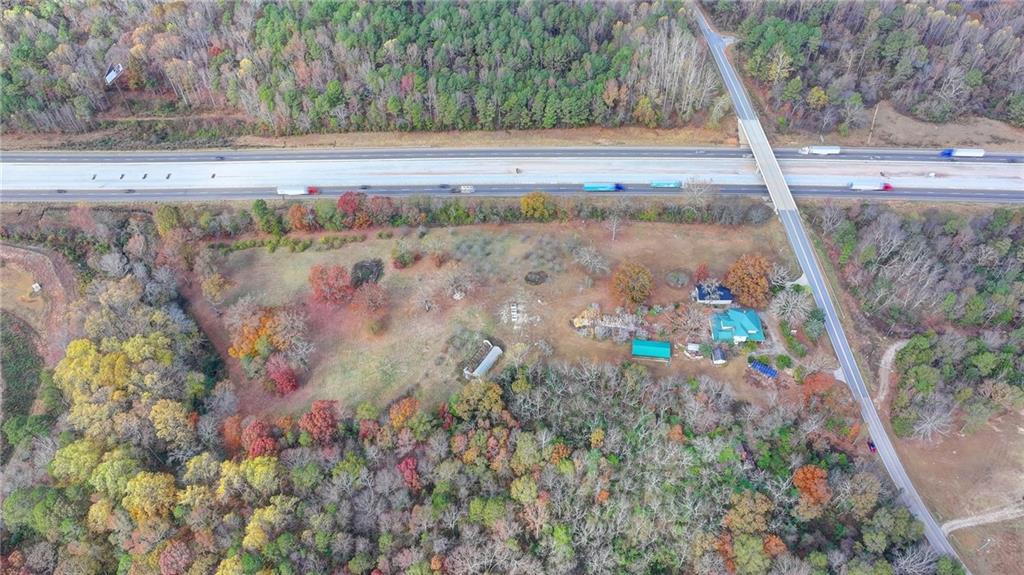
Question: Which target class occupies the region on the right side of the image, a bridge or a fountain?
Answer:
bridge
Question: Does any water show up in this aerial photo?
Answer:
No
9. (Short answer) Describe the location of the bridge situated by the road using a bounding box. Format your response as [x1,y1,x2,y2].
[739,118,798,211]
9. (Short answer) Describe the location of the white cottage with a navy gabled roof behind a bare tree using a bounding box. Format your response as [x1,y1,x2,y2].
[698,286,734,305]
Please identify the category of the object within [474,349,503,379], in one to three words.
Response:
greenhouse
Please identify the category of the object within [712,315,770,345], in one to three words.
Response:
house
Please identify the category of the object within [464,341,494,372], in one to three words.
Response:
house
